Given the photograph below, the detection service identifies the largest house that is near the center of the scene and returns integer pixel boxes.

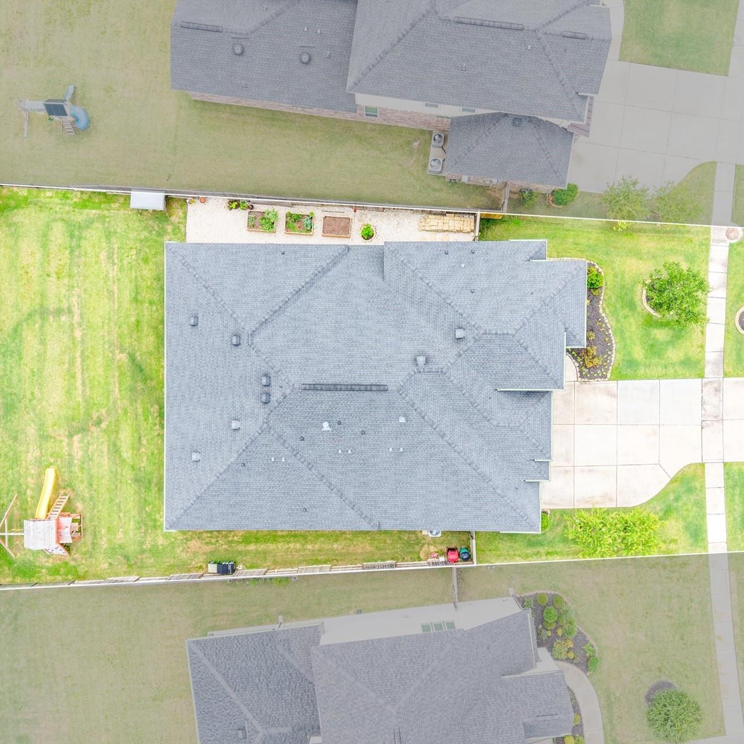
[162,239,589,535]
